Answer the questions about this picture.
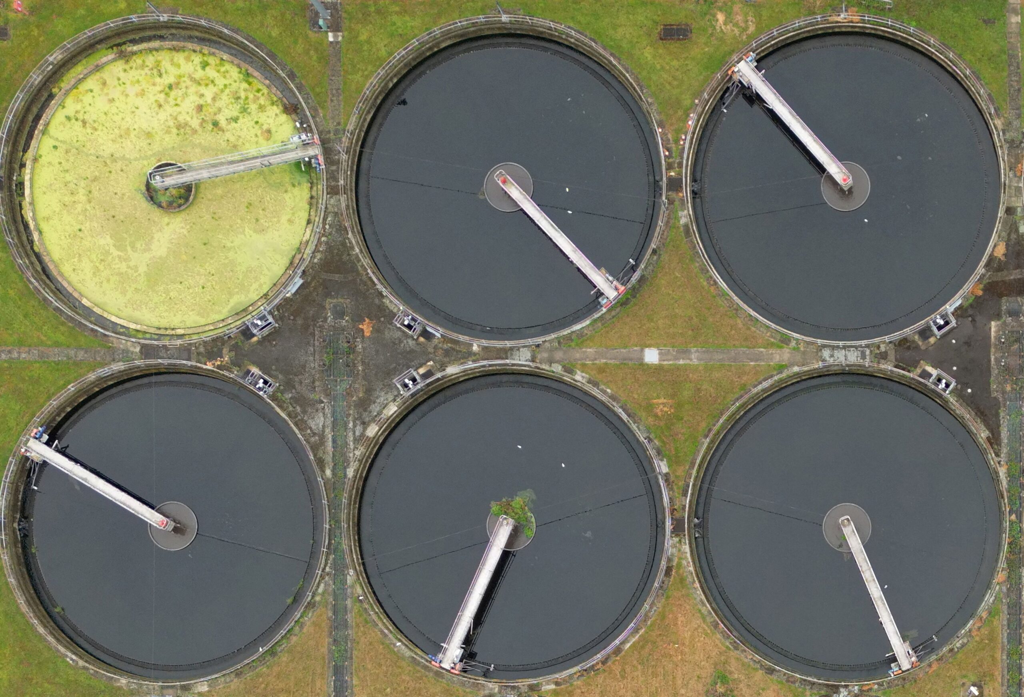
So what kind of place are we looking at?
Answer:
industrial area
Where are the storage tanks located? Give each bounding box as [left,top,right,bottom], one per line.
[683,359,1011,692]
[340,12,672,350]
[682,12,1010,349]
[0,358,333,691]
[0,13,332,351]
[342,357,673,690]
